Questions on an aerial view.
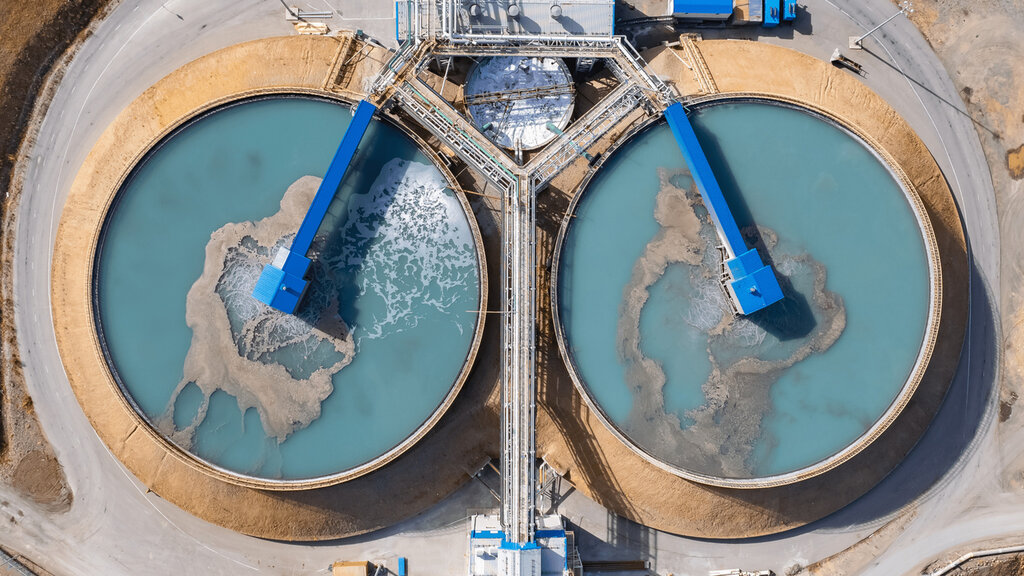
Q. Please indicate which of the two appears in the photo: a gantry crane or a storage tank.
storage tank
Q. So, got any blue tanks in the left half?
Yes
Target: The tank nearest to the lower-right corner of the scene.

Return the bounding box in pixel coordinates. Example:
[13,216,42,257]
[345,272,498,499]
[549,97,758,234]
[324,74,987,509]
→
[548,90,949,490]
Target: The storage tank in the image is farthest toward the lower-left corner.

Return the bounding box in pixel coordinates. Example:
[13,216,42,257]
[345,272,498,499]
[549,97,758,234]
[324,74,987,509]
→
[83,86,488,492]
